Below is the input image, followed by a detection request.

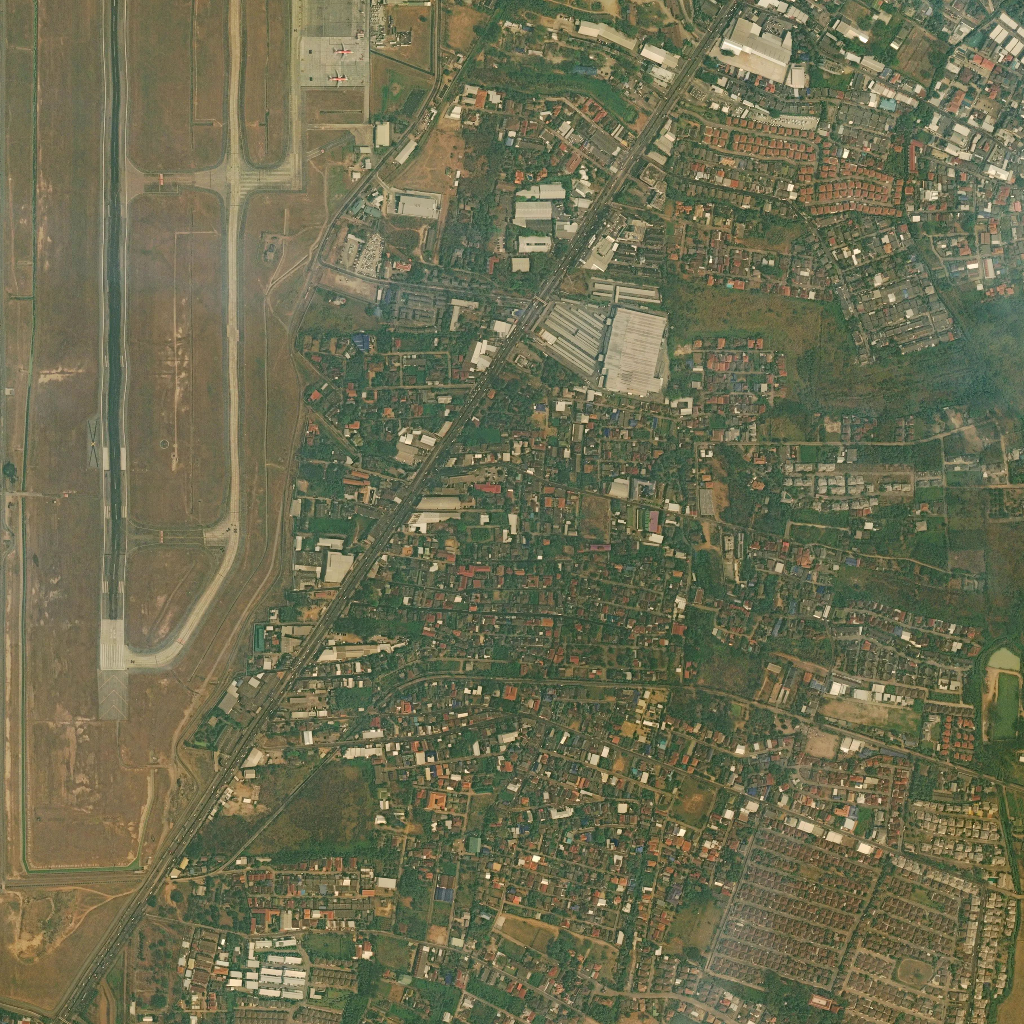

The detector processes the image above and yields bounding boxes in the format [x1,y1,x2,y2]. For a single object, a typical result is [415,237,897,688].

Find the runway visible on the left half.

[97,0,130,720]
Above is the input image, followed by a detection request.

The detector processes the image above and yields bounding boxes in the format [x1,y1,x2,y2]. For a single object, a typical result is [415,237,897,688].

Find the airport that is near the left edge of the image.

[5,0,374,768]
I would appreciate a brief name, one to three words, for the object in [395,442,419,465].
shed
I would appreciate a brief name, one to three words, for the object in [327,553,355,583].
building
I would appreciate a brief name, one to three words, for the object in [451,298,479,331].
building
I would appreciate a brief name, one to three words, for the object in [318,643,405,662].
shed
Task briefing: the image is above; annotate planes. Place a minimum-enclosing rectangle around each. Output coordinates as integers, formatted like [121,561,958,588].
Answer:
[329,71,348,88]
[335,44,354,61]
